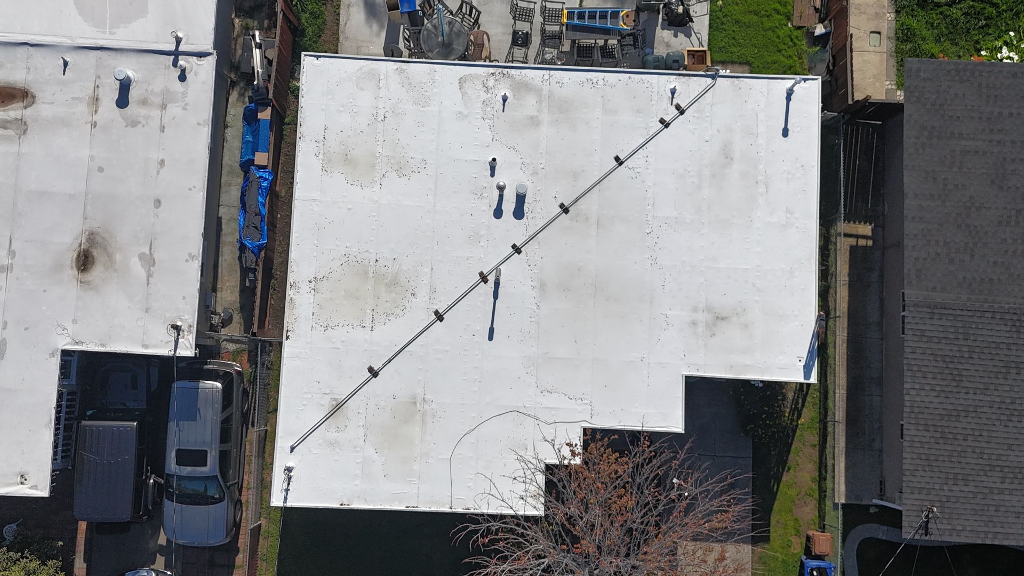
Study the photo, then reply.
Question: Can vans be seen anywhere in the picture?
Yes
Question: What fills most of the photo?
buildings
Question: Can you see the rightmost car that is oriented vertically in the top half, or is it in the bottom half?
bottom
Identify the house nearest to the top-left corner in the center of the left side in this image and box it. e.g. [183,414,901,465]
[0,0,237,497]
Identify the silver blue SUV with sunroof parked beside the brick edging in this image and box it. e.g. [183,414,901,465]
[149,354,251,550]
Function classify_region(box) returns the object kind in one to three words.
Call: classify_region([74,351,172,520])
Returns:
van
